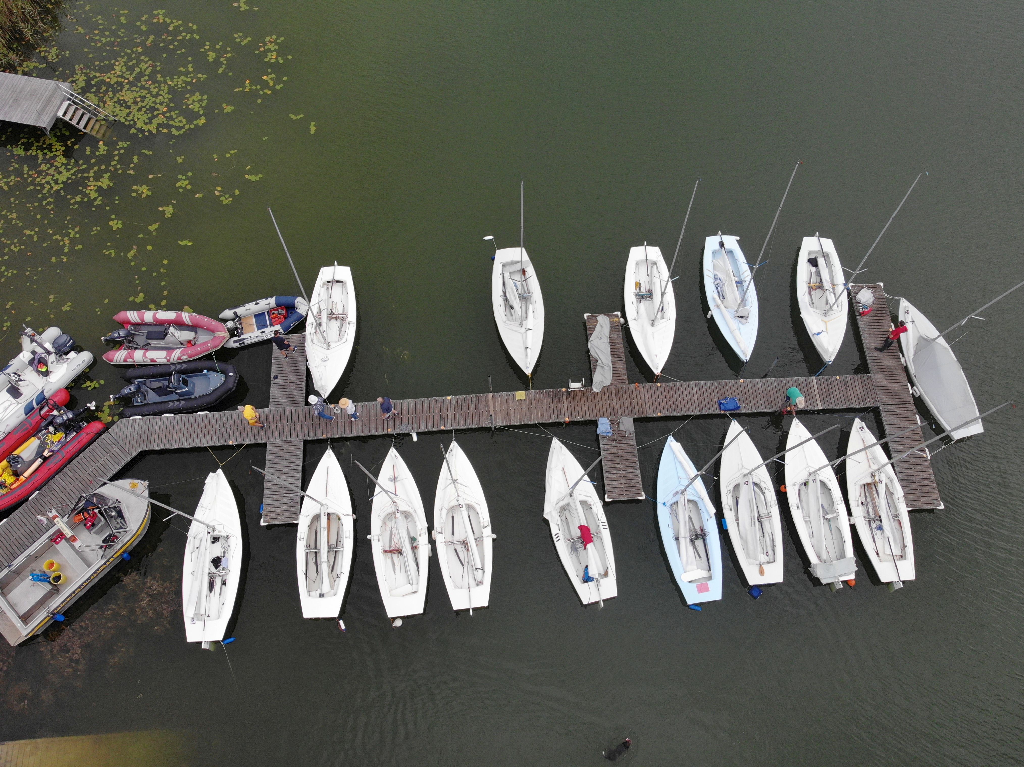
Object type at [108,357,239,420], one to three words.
boat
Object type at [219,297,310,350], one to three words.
boat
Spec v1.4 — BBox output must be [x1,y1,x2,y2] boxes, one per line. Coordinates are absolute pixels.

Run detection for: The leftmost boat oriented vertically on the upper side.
[267,200,356,398]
